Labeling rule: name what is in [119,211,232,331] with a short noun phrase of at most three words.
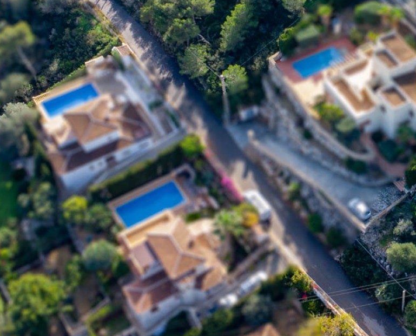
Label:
house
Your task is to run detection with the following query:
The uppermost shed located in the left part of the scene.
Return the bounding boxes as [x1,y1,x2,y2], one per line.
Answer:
[116,43,136,67]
